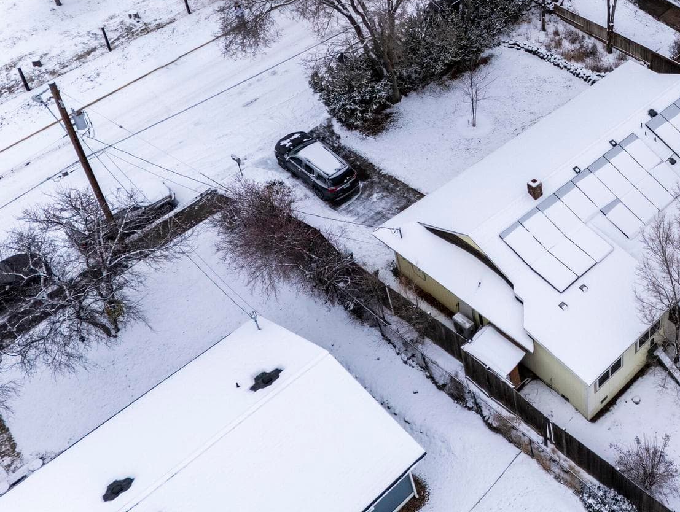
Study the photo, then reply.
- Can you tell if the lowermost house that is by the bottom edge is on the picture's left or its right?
left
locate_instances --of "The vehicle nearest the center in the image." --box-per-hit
[275,133,365,202]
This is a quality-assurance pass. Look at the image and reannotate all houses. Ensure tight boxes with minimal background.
[371,59,680,421]
[0,310,422,512]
